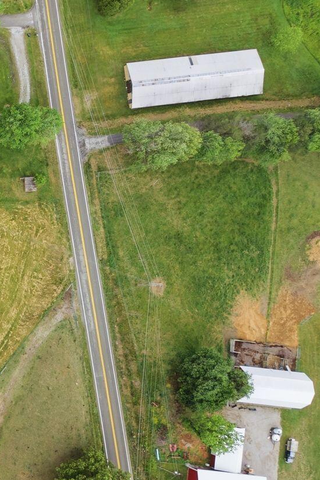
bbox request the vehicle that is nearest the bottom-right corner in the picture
[284,439,298,461]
